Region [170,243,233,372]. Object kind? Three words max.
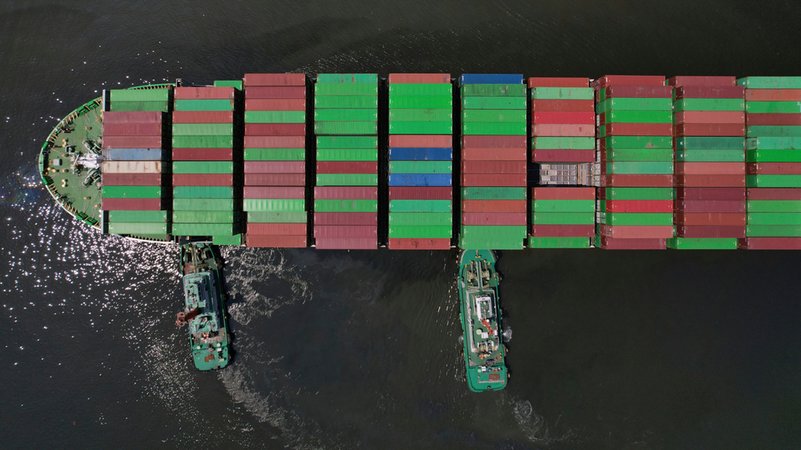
boat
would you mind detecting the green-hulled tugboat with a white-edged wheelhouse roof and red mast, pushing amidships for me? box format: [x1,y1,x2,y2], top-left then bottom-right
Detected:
[457,248,510,391]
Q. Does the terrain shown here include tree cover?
No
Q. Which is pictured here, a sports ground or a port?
port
